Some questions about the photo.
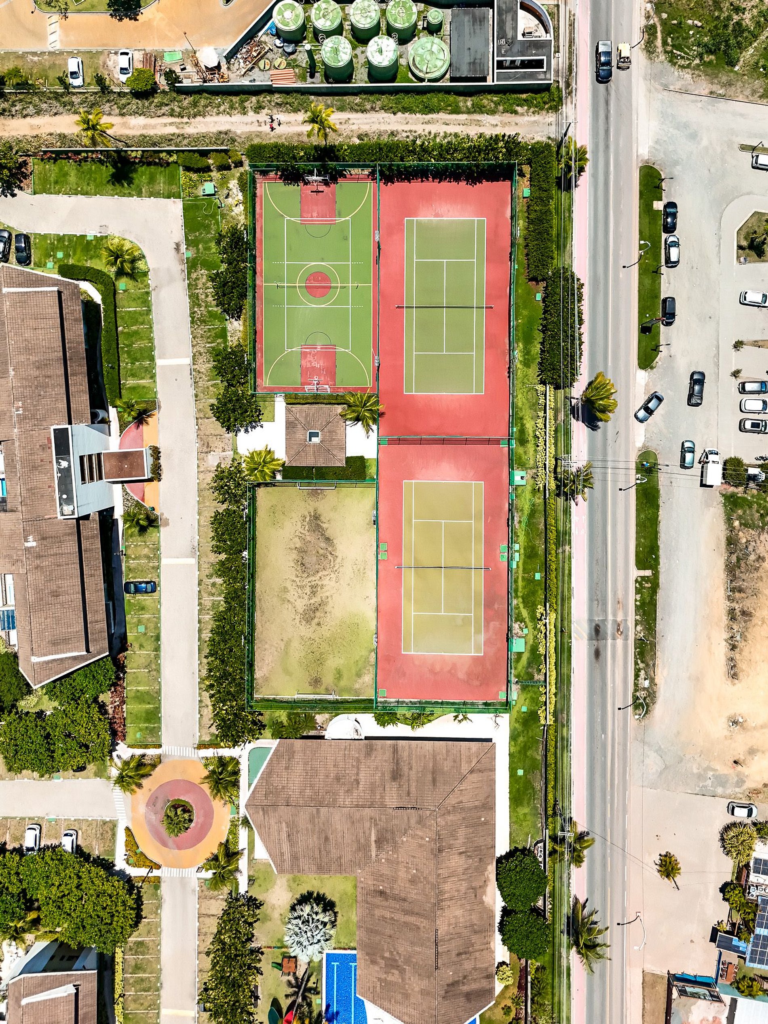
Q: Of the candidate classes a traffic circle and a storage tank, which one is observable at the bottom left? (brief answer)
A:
traffic circle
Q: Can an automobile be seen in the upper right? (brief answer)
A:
Yes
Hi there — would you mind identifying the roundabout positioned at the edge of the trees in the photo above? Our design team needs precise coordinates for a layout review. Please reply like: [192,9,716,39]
[128,760,231,868]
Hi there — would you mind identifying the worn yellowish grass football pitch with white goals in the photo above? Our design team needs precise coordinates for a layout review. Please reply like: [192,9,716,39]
[254,485,376,698]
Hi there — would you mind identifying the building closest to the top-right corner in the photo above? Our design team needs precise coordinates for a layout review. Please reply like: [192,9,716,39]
[492,0,555,92]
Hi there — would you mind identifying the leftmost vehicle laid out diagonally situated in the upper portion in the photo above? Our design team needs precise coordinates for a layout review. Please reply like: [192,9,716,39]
[636,390,662,423]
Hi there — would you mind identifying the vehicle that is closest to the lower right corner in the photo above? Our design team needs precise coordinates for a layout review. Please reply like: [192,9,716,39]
[726,801,758,819]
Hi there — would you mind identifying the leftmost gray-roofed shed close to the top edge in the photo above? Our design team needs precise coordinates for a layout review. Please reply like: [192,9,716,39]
[450,8,489,83]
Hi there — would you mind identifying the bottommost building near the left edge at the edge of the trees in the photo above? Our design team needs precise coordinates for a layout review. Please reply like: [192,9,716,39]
[8,941,113,1024]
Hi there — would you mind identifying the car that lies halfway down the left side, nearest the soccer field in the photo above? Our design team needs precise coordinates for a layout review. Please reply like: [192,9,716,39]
[124,579,157,596]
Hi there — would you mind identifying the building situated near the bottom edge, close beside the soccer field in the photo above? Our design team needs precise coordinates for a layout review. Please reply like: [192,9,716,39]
[244,736,496,1024]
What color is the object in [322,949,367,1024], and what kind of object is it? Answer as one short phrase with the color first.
blue swimming pool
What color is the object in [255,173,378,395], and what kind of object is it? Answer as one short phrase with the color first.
green sports court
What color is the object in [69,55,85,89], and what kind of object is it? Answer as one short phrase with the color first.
white car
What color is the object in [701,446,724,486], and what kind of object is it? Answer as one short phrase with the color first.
white truck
